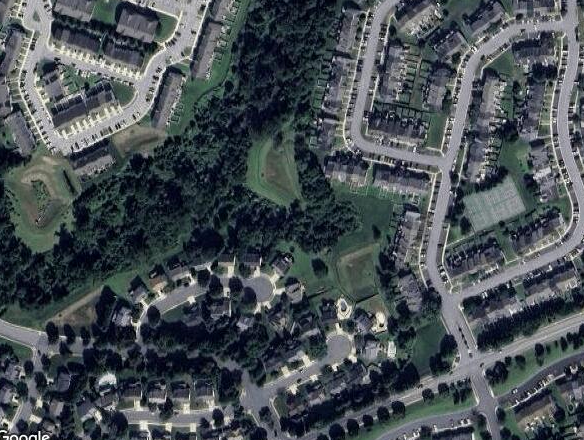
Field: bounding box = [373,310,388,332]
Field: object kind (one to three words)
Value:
swimming pool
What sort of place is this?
residential area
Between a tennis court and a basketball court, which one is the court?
tennis court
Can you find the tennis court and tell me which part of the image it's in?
right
